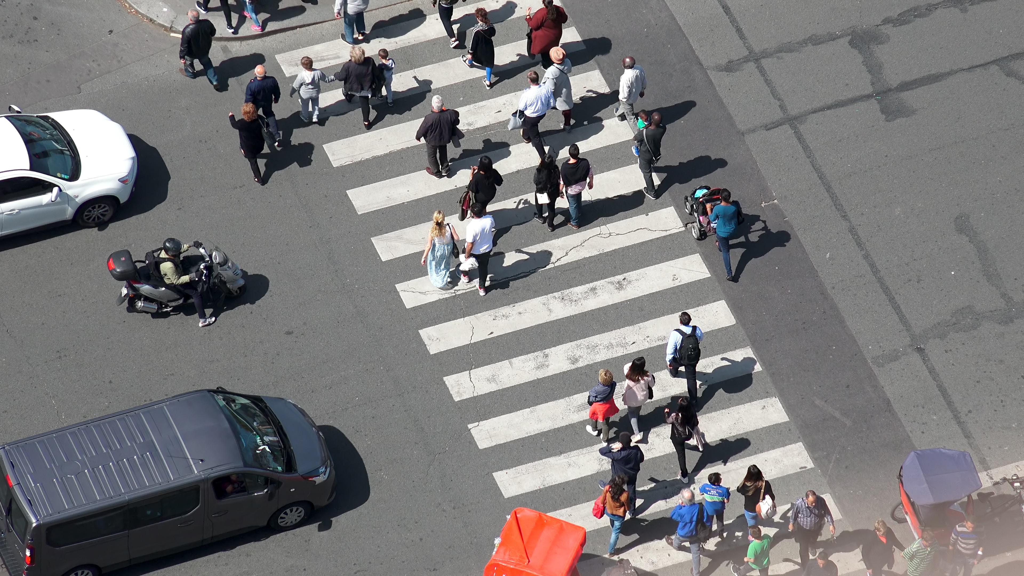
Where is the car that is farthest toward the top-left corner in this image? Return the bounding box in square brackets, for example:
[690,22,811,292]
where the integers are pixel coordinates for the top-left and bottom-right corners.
[0,101,143,243]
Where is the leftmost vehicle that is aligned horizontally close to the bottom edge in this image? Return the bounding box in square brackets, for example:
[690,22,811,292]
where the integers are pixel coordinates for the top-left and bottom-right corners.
[0,384,338,576]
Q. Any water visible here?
No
